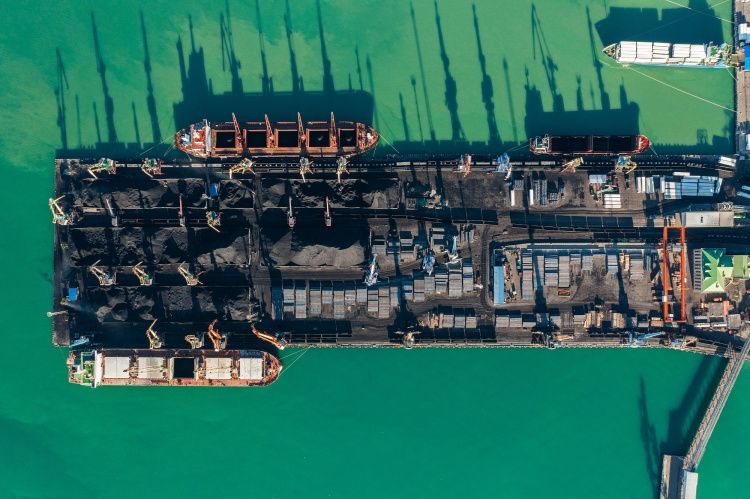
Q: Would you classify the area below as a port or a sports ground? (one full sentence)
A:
This looks like a port.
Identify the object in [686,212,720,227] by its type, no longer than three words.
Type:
building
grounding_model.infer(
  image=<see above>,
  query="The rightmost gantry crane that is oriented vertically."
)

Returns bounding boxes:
[655,227,686,322]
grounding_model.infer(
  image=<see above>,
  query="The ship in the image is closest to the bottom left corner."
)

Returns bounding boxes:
[68,349,283,388]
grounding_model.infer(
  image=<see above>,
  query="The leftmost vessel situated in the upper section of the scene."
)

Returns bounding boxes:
[174,112,379,158]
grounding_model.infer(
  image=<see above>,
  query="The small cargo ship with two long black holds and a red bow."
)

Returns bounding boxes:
[530,135,650,155]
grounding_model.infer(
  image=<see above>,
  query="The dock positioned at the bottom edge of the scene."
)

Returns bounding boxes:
[658,454,698,499]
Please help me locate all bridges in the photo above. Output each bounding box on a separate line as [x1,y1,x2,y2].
[688,319,750,470]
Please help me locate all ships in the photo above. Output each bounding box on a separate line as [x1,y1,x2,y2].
[530,135,650,155]
[68,349,283,388]
[174,112,379,158]
[595,40,735,69]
